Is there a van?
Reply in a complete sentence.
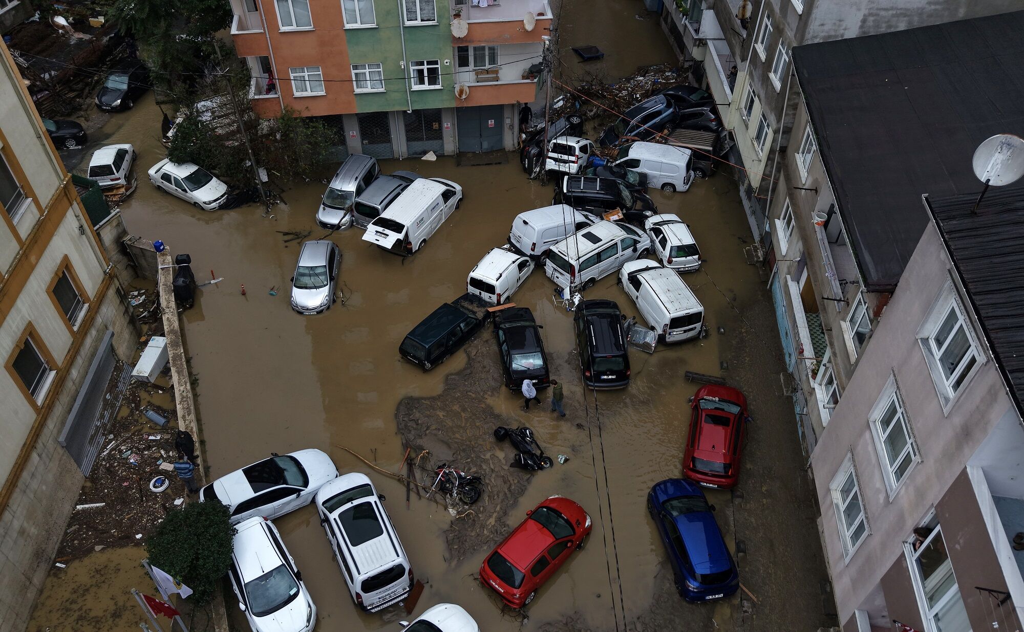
Yes, a van appears in the view.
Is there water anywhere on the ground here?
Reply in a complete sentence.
Yes, there's water in this view.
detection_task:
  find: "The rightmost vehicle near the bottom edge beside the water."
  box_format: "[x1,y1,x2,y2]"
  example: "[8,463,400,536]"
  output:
[651,477,739,605]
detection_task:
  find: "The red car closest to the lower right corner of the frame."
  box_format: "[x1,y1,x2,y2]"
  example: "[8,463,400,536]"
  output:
[685,385,752,489]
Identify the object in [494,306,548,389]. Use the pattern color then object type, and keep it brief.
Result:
black car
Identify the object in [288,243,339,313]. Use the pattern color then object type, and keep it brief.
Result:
gray car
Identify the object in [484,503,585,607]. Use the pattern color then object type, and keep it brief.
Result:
red car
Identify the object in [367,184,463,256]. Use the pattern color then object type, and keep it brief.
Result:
white van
